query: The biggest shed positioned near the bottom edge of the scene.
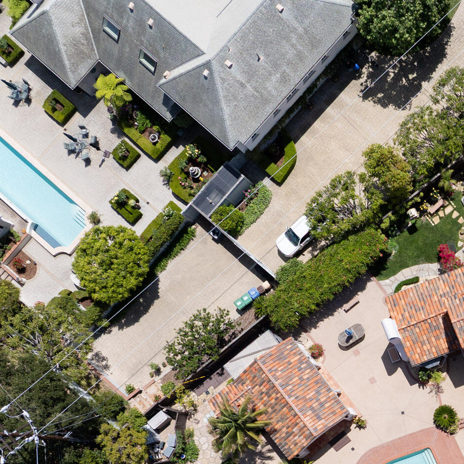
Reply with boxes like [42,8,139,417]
[207,337,364,459]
